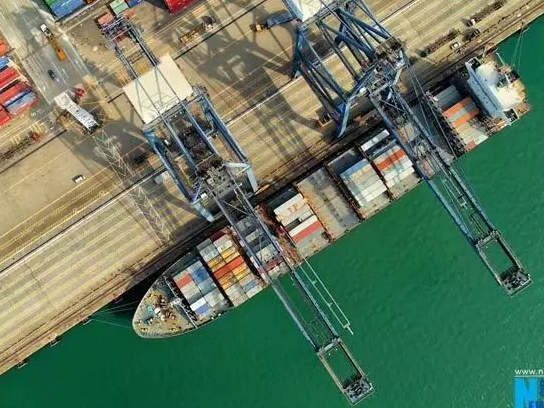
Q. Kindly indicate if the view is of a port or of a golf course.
port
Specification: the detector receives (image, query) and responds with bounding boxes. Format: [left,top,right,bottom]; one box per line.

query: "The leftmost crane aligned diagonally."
[99,12,377,407]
